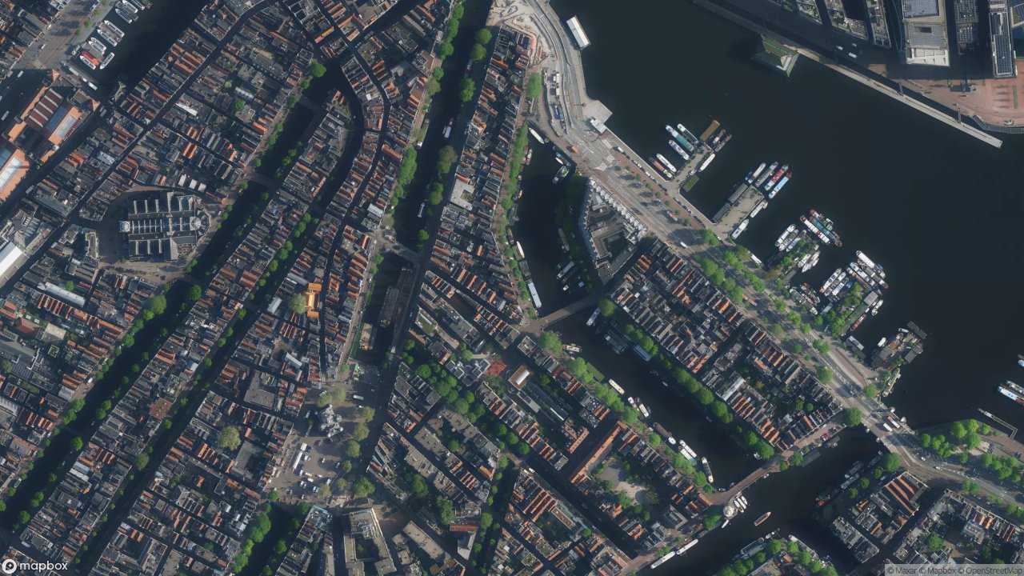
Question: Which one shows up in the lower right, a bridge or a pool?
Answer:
bridge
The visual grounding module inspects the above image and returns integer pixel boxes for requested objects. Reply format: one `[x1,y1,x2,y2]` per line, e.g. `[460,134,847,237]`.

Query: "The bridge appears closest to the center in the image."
[520,292,607,334]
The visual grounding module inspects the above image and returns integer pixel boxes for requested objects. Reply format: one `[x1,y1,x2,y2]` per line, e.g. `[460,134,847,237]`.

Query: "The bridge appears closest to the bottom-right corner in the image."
[866,399,913,453]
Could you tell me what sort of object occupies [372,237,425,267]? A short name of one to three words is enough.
bridge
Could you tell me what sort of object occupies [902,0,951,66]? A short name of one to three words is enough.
building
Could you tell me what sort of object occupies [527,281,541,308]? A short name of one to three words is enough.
boat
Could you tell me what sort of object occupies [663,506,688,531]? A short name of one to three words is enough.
house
